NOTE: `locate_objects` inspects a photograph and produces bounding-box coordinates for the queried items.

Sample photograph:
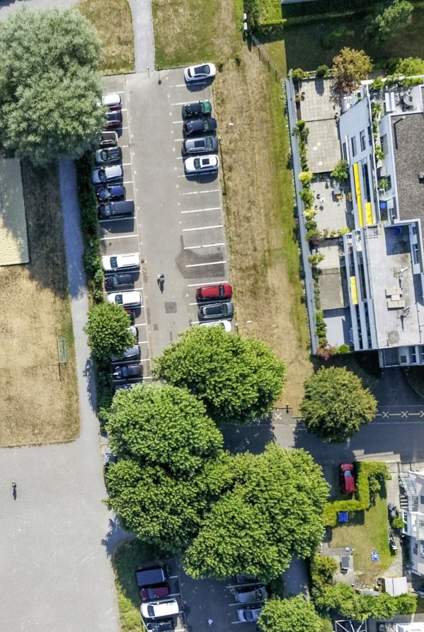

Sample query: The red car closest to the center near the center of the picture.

[195,283,230,302]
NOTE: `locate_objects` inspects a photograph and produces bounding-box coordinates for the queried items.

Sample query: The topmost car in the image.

[182,65,215,83]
